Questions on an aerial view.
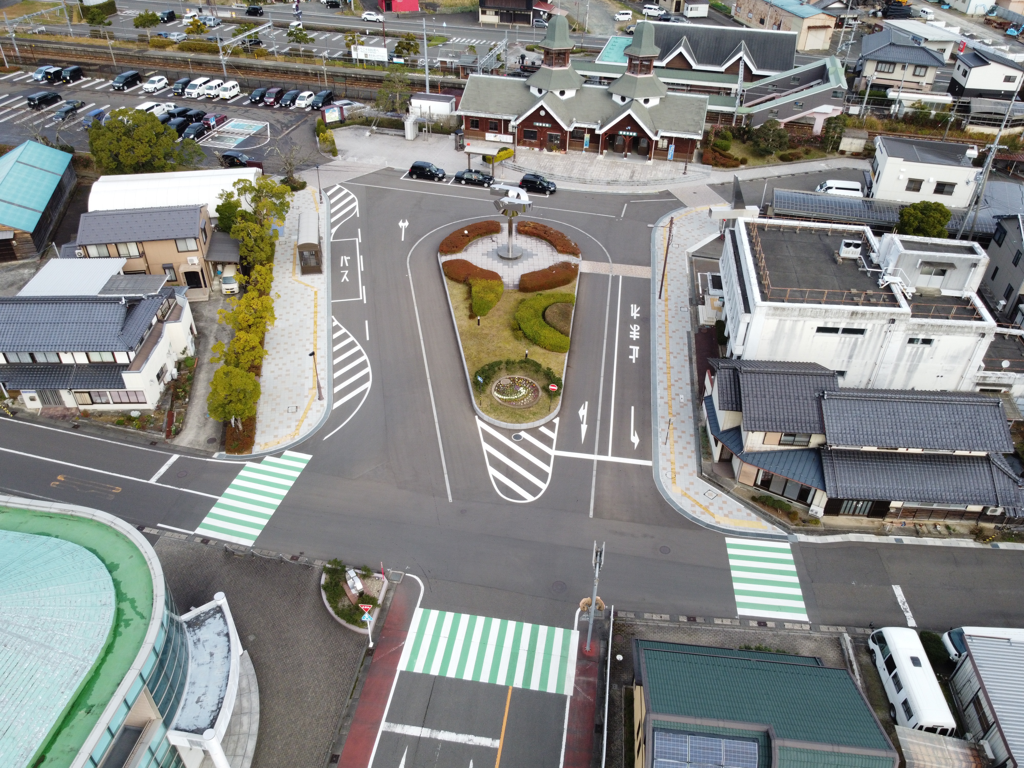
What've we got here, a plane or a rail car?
rail car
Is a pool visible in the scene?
No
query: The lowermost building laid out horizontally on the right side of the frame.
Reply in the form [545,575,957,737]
[627,631,907,768]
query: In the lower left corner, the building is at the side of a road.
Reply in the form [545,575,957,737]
[0,496,193,768]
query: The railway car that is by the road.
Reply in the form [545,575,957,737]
[515,49,543,78]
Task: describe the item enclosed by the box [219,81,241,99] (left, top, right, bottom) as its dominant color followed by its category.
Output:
white car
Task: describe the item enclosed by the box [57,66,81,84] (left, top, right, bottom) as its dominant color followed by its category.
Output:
black car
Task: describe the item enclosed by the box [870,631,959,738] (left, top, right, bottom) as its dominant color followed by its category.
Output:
white vehicle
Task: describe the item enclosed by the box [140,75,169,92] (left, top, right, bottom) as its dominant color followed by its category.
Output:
white car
